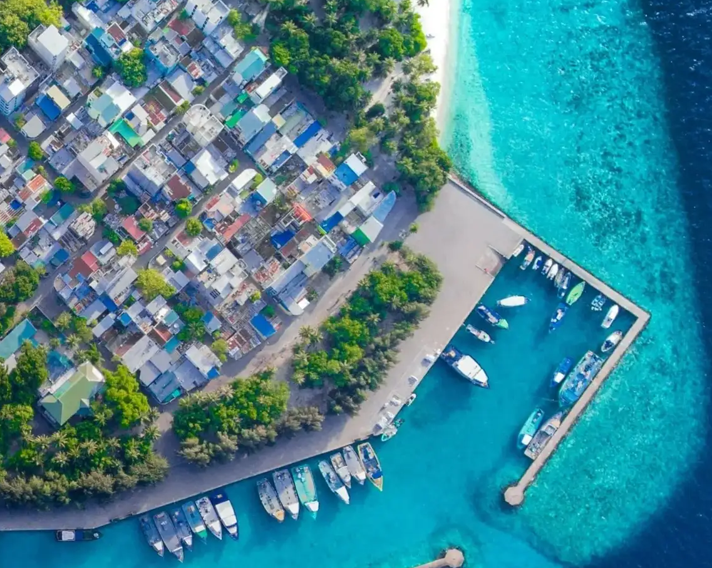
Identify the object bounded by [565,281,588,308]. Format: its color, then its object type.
green boat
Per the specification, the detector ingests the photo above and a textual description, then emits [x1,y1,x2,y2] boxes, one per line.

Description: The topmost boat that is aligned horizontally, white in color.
[495,295,532,308]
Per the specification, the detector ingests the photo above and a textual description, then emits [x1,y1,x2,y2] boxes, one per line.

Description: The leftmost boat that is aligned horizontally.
[56,529,102,542]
